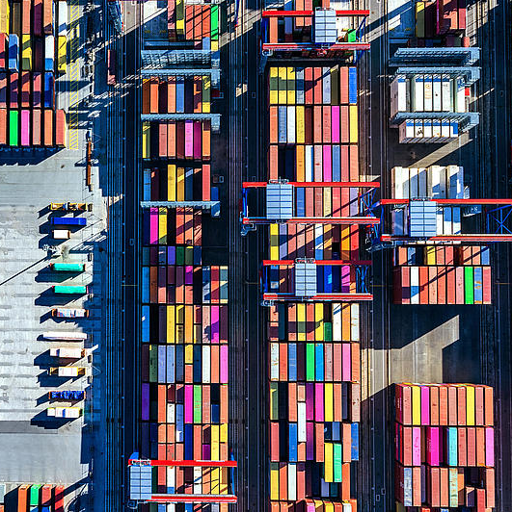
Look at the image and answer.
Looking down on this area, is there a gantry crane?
Yes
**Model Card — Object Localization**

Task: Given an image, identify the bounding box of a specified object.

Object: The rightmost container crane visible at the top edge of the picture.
[259,5,369,76]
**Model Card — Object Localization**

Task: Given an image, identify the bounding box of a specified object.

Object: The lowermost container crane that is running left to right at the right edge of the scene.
[365,195,512,257]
